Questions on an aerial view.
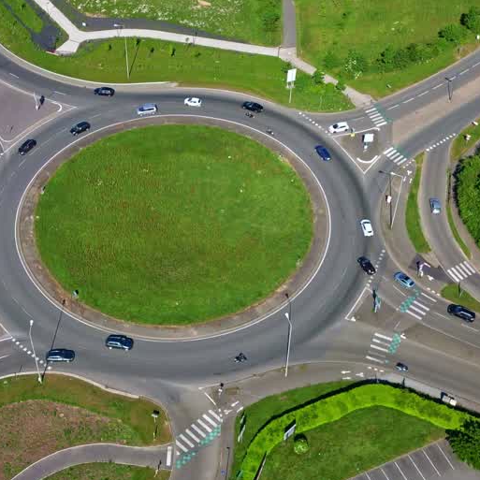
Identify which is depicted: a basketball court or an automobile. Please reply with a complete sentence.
Of the two, only an automobile appears.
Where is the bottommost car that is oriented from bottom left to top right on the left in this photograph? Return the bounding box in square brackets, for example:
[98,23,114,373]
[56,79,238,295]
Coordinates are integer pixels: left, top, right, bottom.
[18,139,39,156]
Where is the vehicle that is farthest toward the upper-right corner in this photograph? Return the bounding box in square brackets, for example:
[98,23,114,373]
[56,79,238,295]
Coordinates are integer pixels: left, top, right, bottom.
[330,121,352,133]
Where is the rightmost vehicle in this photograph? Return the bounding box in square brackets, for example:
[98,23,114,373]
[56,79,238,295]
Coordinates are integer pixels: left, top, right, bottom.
[446,304,475,323]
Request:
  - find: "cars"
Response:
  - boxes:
[70,119,92,135]
[356,255,376,276]
[183,96,201,107]
[241,101,263,112]
[393,361,411,373]
[94,87,114,96]
[359,219,373,238]
[393,272,417,289]
[105,336,132,350]
[330,121,352,133]
[315,145,331,160]
[18,139,39,156]
[46,348,75,363]
[136,103,158,116]
[446,304,475,323]
[430,198,441,214]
